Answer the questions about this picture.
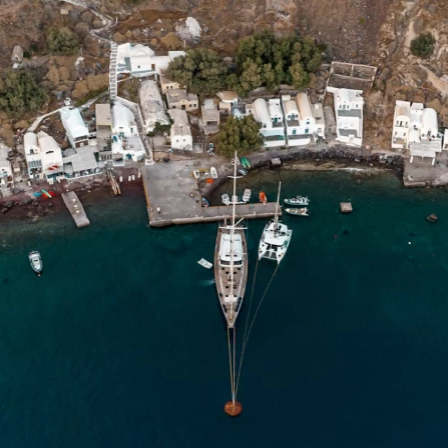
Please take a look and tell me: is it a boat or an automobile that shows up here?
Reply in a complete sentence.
It is a boat that can be seen here.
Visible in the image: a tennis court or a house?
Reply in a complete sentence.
There is a house in the scene.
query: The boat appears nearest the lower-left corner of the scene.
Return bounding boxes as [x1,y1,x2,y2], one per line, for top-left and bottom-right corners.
[29,248,42,274]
